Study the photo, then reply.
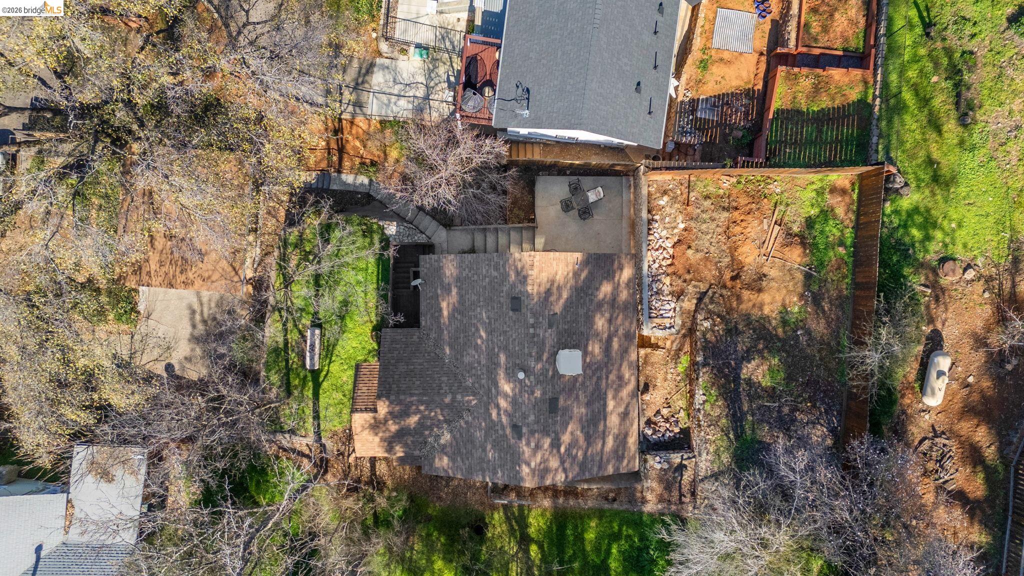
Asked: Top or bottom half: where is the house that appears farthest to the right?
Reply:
top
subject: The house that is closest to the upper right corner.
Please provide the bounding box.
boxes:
[493,0,684,151]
